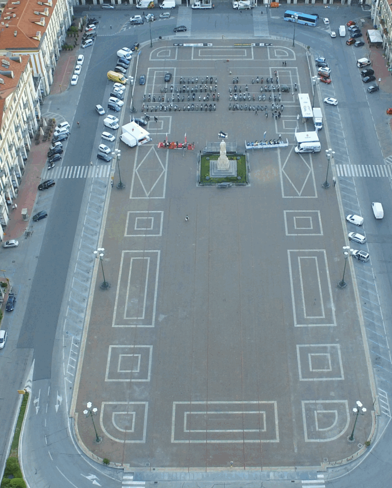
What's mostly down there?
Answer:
paved ground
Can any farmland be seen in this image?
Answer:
No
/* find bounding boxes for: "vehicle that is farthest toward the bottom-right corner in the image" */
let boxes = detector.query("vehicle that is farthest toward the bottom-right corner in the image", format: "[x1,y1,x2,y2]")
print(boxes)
[352,249,375,261]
